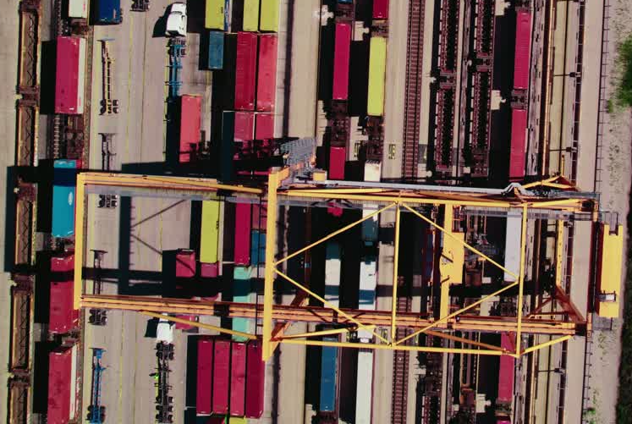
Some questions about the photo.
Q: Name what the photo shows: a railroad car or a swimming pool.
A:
railroad car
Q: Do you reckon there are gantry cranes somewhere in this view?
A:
Yes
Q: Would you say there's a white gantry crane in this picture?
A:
No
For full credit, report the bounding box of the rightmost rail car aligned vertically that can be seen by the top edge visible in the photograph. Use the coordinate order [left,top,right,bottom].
[509,0,532,97]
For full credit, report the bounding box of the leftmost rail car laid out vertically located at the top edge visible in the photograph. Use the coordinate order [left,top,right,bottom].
[19,0,43,95]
